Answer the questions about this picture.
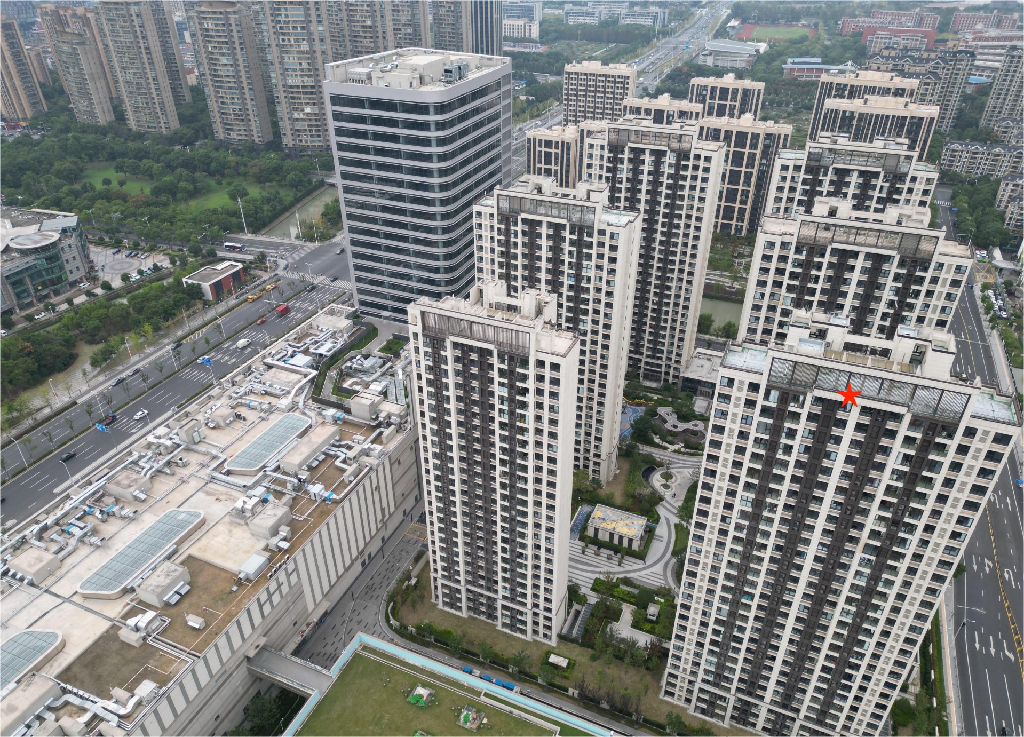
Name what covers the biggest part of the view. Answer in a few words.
buildings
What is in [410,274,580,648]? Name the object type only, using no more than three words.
building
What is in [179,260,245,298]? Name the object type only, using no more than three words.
building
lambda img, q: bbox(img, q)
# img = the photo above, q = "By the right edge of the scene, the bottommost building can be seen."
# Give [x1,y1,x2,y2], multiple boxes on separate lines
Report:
[659,308,1024,737]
